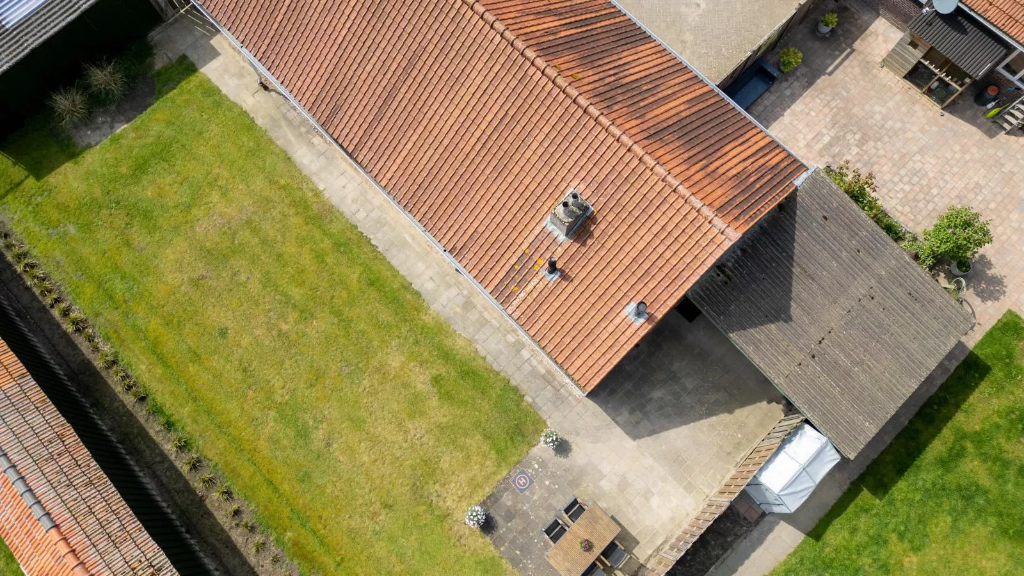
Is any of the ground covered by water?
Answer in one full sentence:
No, the scene doesn't show any water.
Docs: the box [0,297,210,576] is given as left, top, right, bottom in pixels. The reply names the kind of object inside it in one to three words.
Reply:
shed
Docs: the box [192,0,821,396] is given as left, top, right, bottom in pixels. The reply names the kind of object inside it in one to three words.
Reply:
house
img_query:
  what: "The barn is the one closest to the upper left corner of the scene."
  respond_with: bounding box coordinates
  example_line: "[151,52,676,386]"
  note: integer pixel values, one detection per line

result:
[0,0,148,143]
